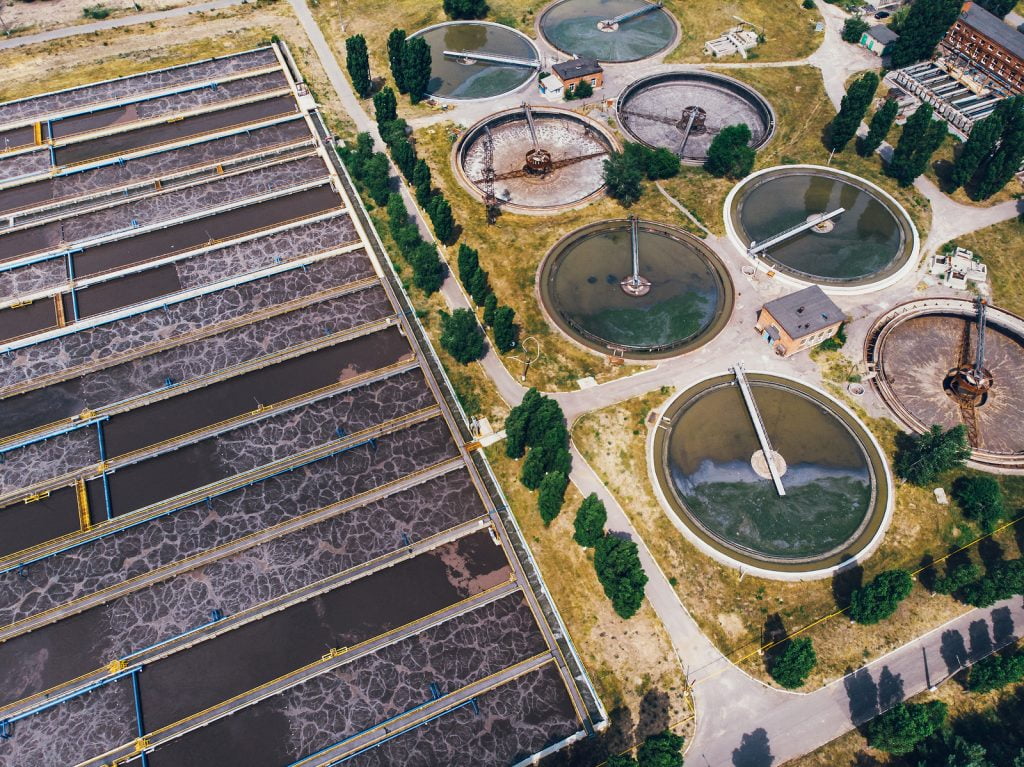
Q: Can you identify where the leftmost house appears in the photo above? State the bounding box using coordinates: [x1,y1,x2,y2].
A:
[543,59,605,104]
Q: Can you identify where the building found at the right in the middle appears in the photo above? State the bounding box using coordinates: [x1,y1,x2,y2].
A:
[758,285,850,353]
